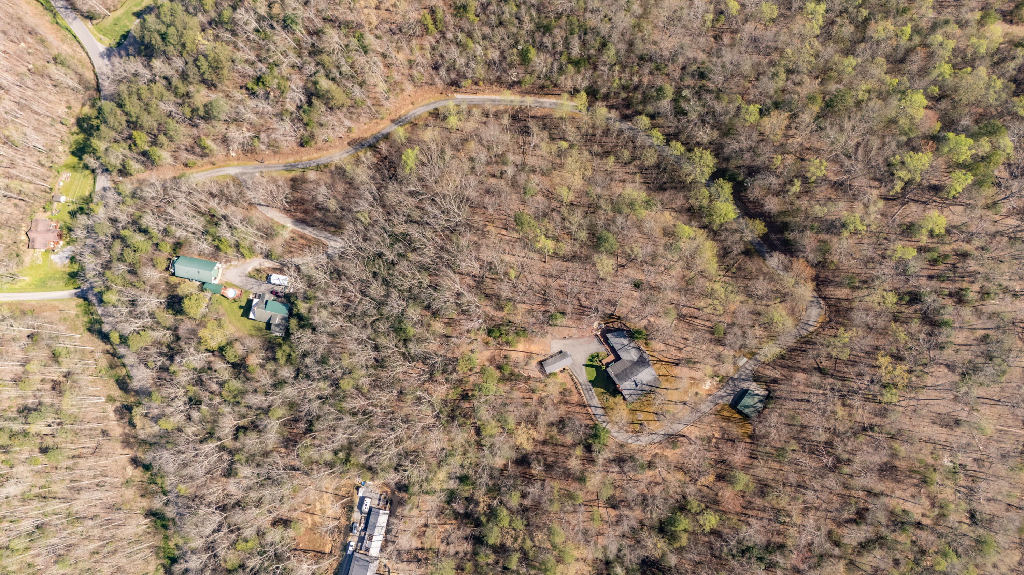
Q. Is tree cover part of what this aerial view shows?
Yes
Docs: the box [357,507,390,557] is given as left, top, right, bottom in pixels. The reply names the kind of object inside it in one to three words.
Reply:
house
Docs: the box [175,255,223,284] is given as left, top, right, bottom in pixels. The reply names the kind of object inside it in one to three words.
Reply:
barn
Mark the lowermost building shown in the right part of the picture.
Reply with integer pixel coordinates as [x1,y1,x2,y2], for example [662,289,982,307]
[736,390,765,420]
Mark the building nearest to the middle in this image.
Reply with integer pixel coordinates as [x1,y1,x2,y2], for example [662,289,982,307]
[543,352,573,373]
